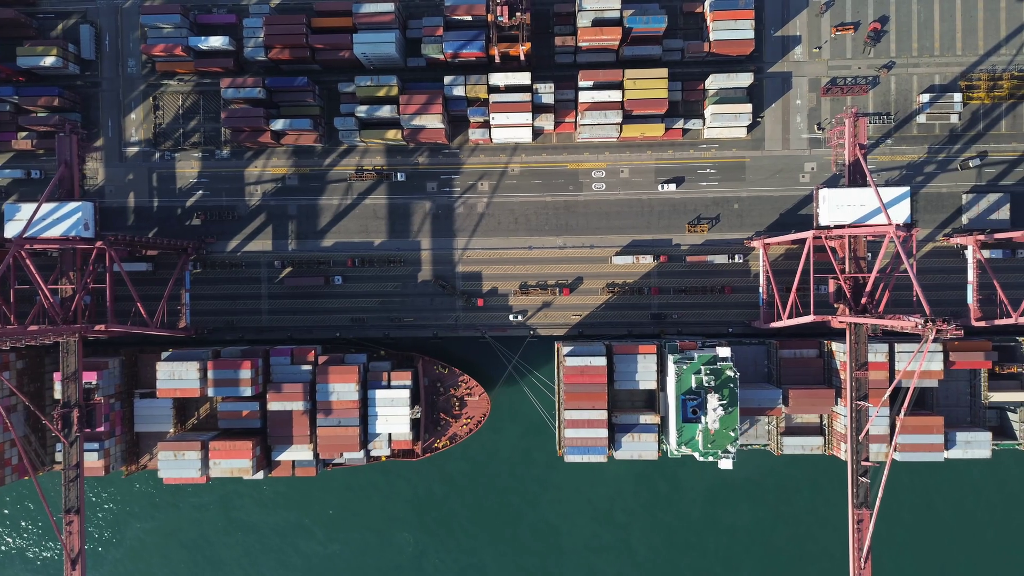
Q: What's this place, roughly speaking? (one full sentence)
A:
What you see here is a port.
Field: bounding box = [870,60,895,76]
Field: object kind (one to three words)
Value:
work vehicle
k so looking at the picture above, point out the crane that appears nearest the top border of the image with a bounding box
[488,0,532,69]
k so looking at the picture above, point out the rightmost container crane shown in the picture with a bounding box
[944,236,1024,327]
